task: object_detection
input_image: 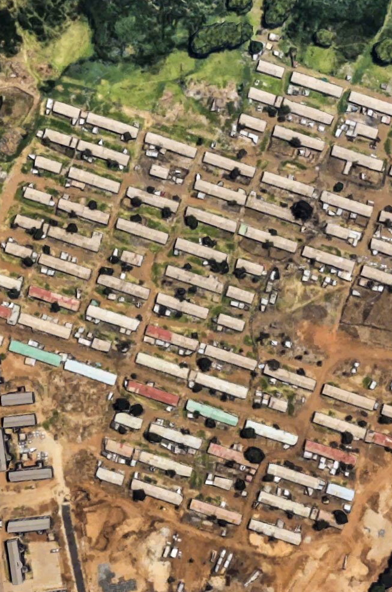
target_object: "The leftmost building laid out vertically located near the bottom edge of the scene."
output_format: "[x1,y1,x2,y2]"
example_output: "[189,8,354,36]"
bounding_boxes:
[7,540,30,585]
